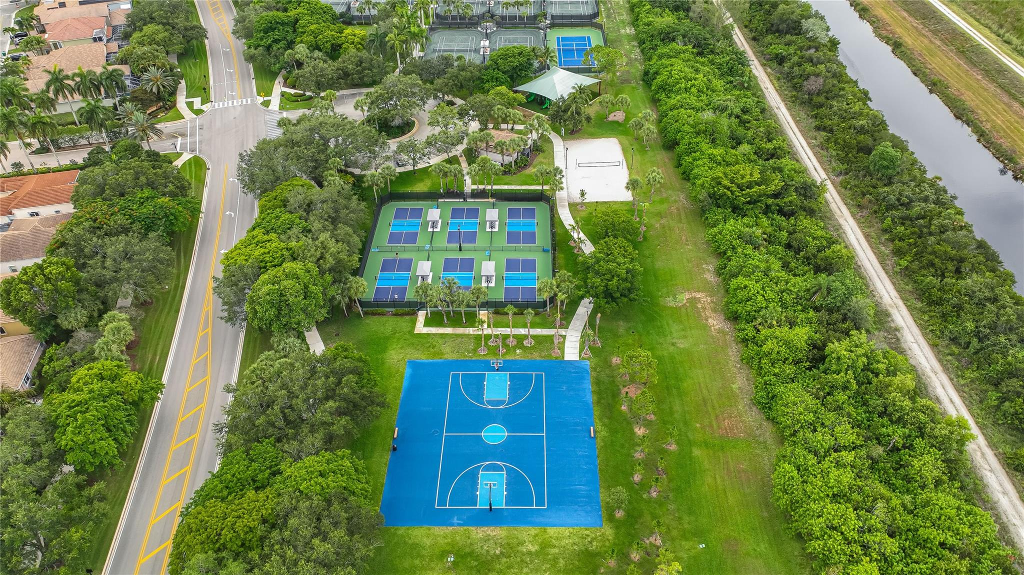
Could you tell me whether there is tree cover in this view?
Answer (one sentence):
Yes, some tree cover is visible.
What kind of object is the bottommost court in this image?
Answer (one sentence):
Looking closely, the bottommost court is a basketball court.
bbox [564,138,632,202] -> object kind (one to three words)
sports court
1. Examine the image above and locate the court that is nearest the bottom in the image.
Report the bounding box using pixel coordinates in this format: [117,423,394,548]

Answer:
[381,360,603,527]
